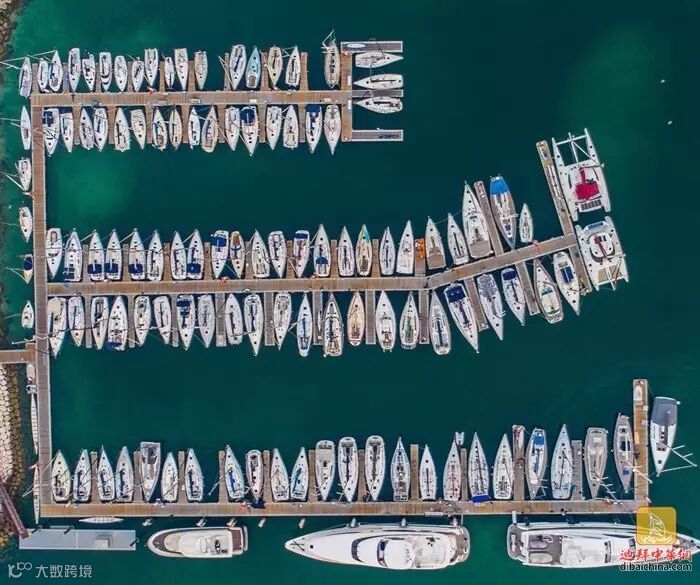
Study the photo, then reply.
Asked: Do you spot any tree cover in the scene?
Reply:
No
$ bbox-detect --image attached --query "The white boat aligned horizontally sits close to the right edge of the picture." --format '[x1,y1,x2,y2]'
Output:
[505,506,700,567]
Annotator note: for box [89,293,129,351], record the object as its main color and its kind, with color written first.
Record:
white boat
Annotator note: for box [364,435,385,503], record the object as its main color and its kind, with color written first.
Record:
white boat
